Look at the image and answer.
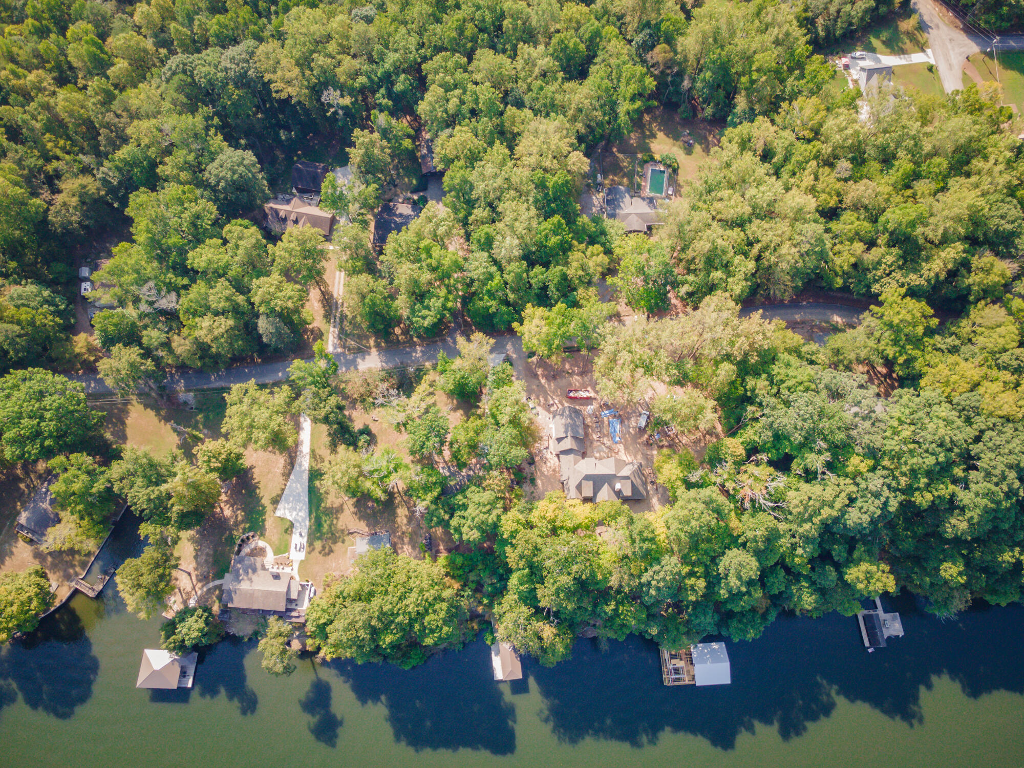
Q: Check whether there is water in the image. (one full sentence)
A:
Yes, the picture does contain water.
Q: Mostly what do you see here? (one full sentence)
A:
The scene is dominated by trees.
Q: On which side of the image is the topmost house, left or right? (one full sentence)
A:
The topmost house is on the right side of the image.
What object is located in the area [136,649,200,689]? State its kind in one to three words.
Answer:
building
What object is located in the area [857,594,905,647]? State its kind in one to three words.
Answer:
pier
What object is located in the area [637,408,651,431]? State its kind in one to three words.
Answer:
car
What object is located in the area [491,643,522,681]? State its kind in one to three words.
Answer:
building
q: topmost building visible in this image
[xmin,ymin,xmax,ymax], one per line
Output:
[857,60,897,124]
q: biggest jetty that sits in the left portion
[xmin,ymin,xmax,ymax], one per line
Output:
[74,566,117,598]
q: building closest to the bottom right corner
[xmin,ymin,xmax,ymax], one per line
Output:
[690,642,730,686]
